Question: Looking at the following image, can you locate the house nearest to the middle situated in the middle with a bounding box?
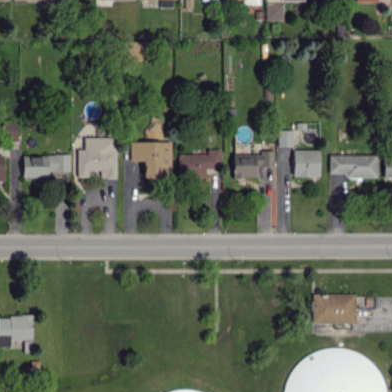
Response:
[178,150,222,179]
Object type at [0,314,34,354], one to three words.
house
